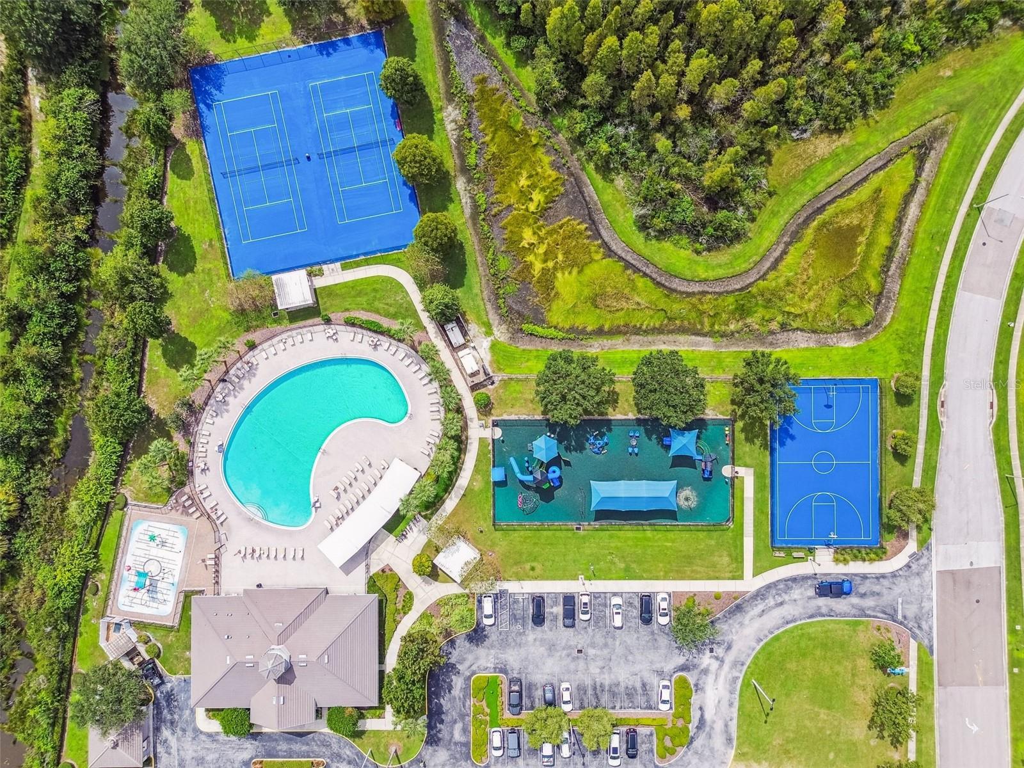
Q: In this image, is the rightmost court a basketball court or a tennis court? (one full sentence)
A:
Specifically, the rightmost court is a basketball court.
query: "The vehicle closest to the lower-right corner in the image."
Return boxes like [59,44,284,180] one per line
[814,580,850,596]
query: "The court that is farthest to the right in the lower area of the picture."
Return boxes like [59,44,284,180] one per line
[770,378,881,547]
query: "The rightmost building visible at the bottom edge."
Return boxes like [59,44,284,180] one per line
[191,586,379,730]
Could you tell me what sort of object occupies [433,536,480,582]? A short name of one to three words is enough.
building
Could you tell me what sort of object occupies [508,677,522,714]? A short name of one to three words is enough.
vehicle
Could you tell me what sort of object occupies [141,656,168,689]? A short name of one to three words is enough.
truck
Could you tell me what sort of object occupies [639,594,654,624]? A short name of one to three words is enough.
car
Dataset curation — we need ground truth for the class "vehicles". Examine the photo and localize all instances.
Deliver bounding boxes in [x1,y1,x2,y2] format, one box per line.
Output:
[490,728,504,756]
[559,729,573,757]
[562,593,576,627]
[608,731,622,764]
[508,677,522,714]
[560,682,573,711]
[531,595,545,626]
[610,597,624,628]
[814,580,850,596]
[578,592,592,620]
[541,745,555,764]
[639,594,654,624]
[141,656,168,689]
[507,727,521,758]
[482,594,496,625]
[542,683,556,710]
[657,592,671,623]
[625,728,639,757]
[658,680,672,709]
